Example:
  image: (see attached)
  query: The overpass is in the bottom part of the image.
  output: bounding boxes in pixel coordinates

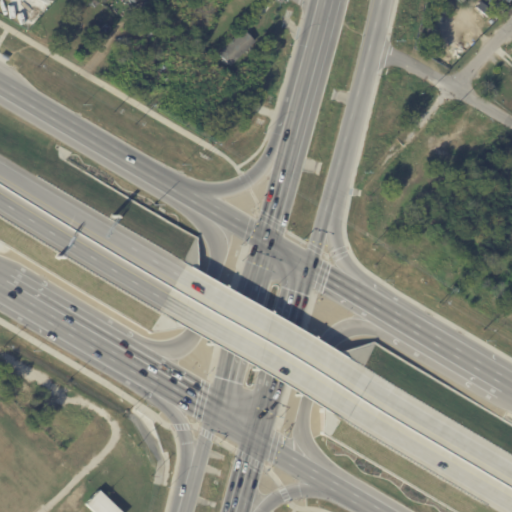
[158,262,378,423]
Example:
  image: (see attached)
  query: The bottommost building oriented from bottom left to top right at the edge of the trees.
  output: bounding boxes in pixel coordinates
[222,30,258,64]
